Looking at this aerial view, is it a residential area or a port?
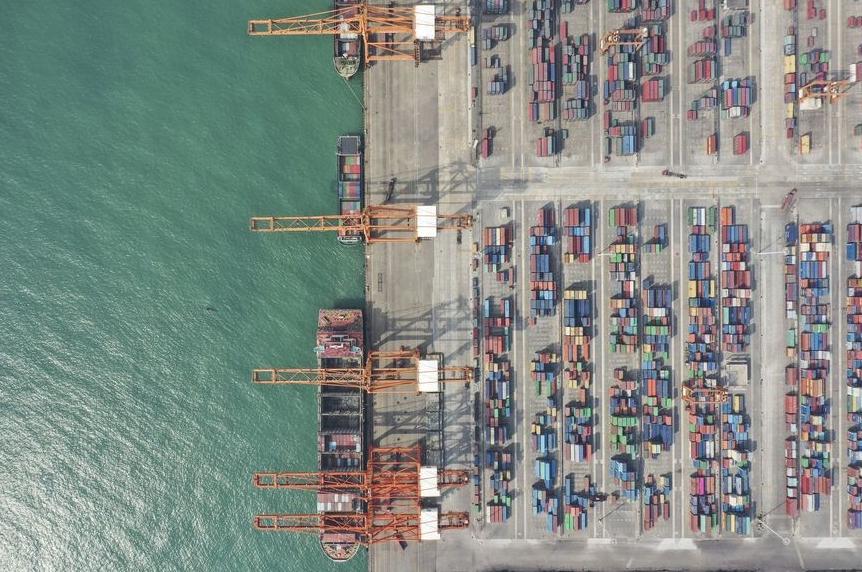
port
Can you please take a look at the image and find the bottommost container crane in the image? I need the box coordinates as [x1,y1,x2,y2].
[253,480,475,543]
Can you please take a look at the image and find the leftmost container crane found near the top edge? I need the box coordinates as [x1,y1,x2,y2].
[248,0,471,70]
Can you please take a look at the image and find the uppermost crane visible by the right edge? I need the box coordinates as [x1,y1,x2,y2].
[798,74,859,103]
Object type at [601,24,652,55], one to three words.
container crane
